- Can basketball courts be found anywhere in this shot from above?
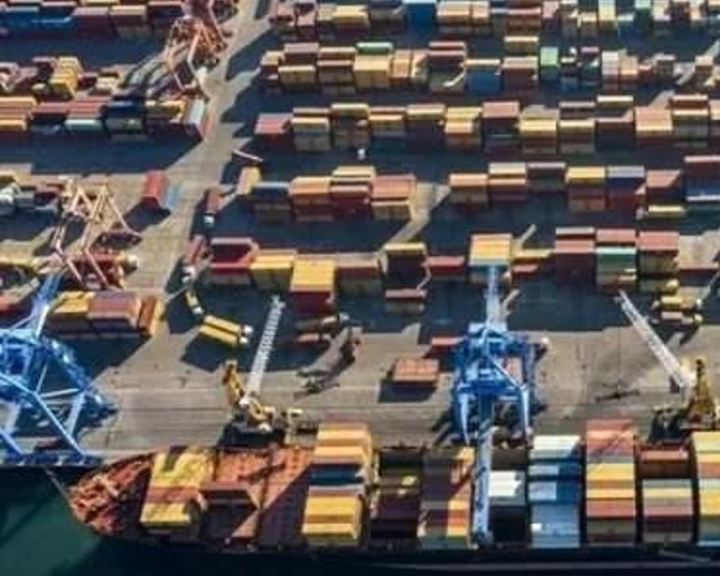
No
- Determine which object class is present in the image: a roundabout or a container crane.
container crane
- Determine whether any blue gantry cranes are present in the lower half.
Yes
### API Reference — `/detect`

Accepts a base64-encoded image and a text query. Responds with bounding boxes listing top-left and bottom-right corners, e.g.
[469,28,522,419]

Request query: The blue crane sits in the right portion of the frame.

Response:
[448,251,546,546]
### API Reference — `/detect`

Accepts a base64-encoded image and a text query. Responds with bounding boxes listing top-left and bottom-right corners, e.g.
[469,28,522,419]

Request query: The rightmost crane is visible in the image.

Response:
[595,289,720,444]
